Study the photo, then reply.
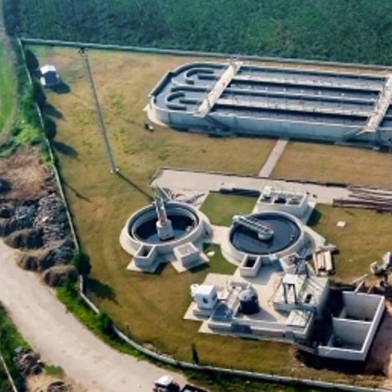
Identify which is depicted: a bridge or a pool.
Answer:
bridge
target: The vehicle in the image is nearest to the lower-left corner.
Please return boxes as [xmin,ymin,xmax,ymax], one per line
[151,373,182,392]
